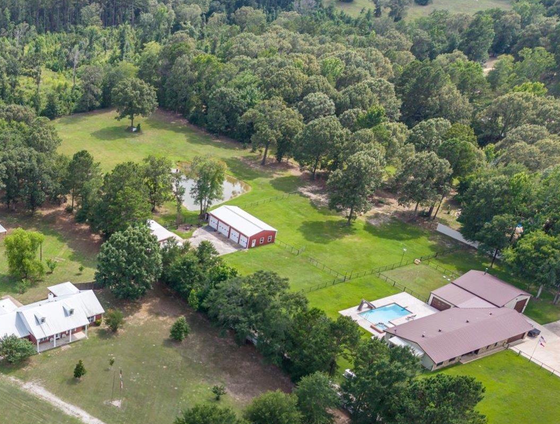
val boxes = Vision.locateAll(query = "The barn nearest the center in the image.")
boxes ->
[209,205,277,248]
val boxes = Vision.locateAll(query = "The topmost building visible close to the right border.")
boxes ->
[428,267,535,315]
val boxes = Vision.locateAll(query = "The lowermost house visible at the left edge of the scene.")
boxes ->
[0,282,106,353]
